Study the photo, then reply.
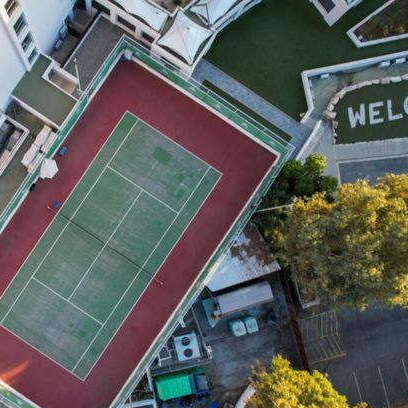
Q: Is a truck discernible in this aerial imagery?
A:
Yes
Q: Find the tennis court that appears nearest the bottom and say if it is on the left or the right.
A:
left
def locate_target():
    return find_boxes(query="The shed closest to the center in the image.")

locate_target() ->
[204,222,279,290]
